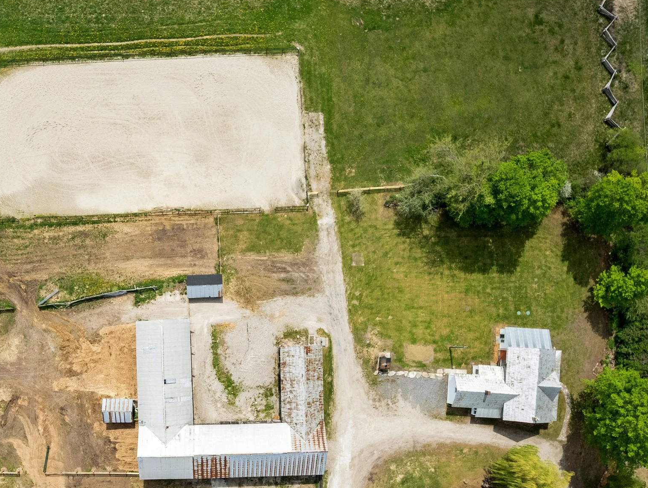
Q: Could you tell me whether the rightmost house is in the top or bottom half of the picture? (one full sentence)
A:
It is in the bottom half that the rightmost house appears.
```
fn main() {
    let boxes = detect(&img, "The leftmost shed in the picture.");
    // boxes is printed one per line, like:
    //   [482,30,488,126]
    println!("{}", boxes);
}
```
[101,398,138,423]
